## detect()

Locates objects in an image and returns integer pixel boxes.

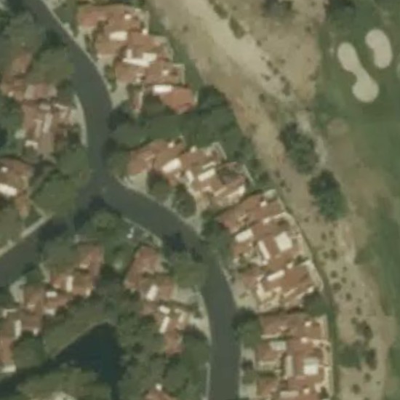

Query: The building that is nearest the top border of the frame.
[74,0,150,40]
